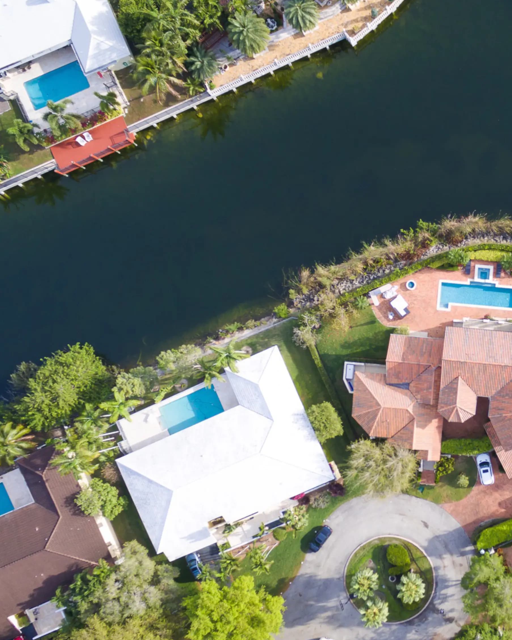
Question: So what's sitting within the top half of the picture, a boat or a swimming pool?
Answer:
swimming pool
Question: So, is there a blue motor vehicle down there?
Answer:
Yes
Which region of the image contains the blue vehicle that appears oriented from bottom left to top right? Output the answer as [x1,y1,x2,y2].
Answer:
[308,522,334,556]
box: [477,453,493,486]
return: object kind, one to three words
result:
car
